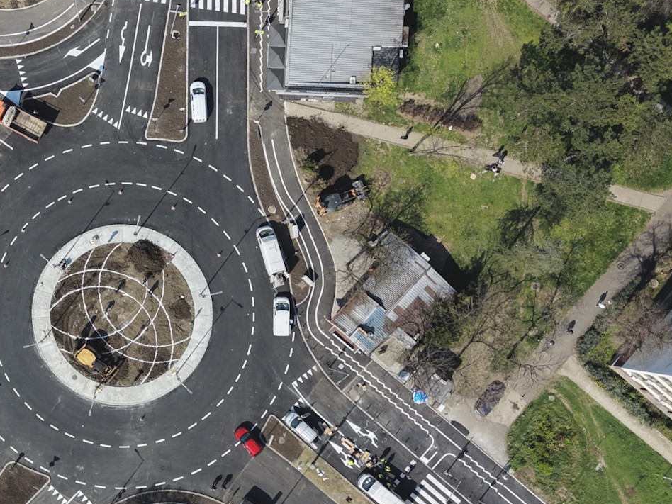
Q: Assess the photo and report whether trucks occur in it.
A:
Yes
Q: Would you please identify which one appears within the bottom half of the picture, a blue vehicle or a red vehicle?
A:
red vehicle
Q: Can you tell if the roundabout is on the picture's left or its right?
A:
left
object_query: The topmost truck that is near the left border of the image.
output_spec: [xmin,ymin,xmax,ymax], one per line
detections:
[0,95,47,143]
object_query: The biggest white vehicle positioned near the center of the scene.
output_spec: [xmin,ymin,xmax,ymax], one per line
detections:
[255,224,294,288]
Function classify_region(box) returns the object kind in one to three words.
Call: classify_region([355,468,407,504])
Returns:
van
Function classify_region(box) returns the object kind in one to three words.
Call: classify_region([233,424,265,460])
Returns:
car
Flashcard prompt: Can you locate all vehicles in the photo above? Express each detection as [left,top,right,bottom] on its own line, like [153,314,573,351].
[255,224,294,288]
[271,297,292,336]
[355,468,407,504]
[0,95,47,143]
[305,181,366,224]
[233,424,265,460]
[283,407,327,453]
[188,82,209,124]
[238,494,260,504]
[473,376,508,417]
[66,337,122,383]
